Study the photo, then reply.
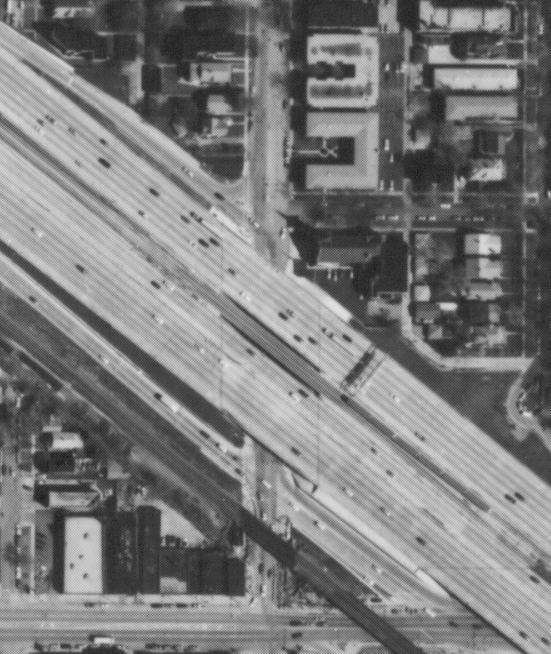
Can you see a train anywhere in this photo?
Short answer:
No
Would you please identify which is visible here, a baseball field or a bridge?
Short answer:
bridge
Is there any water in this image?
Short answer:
No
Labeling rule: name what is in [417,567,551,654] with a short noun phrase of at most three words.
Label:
overpass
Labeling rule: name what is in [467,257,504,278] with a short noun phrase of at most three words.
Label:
house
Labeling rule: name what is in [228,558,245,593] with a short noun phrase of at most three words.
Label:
building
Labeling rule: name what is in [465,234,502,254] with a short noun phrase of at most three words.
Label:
house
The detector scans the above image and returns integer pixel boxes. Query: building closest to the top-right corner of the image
[485,6,511,30]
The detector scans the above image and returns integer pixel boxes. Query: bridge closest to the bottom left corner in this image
[238,506,292,568]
